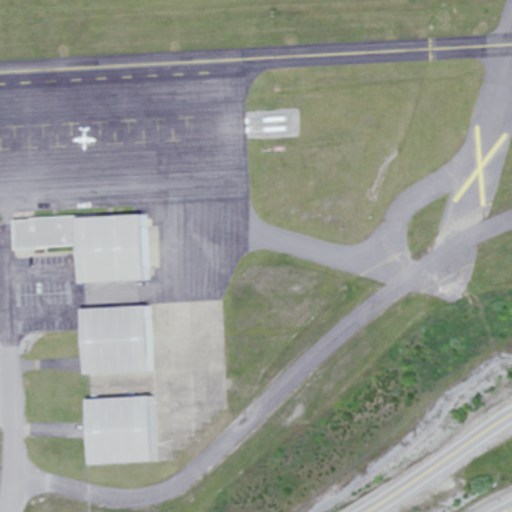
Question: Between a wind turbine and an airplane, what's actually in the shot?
airplane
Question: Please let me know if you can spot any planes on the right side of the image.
No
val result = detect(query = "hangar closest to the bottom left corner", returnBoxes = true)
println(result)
[83,396,158,466]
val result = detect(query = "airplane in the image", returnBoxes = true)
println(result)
[72,126,96,151]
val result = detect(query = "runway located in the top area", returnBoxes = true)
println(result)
[386,0,512,249]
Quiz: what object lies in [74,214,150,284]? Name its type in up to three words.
hangar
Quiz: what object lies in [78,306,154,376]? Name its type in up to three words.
hangar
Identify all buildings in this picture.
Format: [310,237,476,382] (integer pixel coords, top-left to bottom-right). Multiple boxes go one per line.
[74,214,150,284]
[78,306,154,376]
[83,396,158,466]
